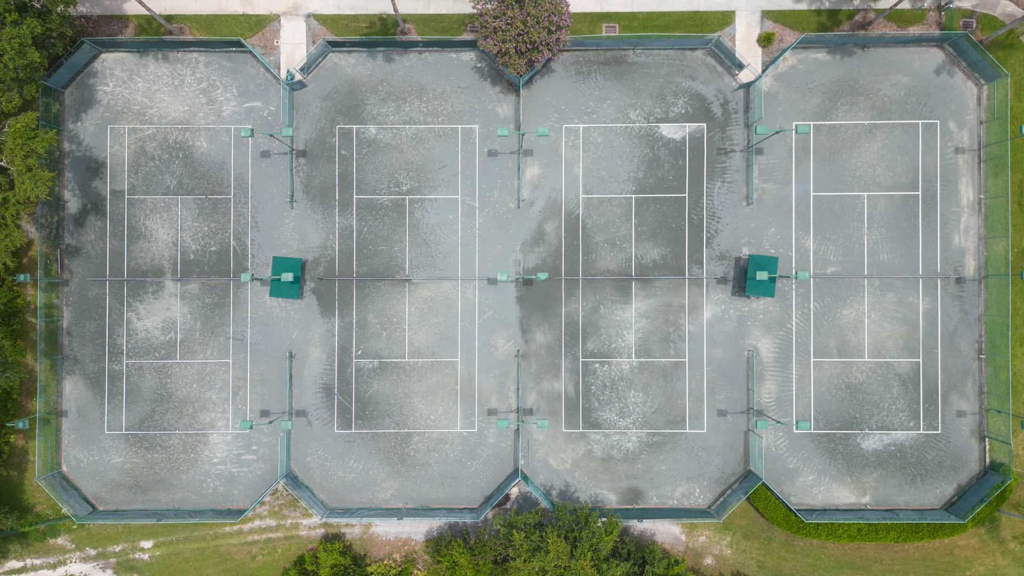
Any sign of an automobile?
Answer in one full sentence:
No, the scene contains no automobile.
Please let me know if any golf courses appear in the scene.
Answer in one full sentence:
No, the scene contains no golf course.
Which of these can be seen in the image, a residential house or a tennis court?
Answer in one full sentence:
The one in the frame is a tennis court.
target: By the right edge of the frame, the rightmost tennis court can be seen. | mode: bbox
[748,46,985,510]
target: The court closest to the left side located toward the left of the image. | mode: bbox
[62,51,294,510]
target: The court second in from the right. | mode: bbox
[519,49,749,511]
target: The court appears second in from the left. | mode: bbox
[292,51,520,508]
